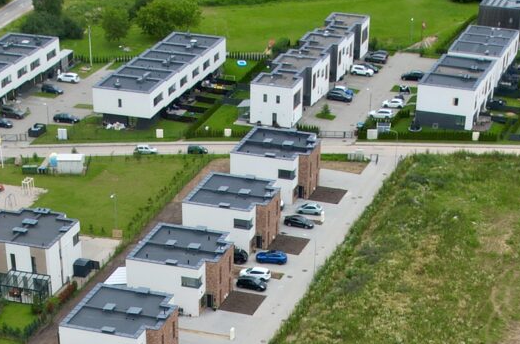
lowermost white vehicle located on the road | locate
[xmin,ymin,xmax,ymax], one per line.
[240,266,272,282]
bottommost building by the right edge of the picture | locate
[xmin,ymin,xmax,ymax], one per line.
[417,23,508,127]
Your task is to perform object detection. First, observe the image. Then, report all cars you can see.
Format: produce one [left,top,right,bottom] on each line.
[240,266,272,282]
[233,249,256,265]
[256,250,287,265]
[182,145,209,156]
[133,145,157,156]
[237,277,267,292]
[364,54,386,65]
[56,72,80,83]
[328,90,352,102]
[380,99,405,109]
[334,86,355,95]
[282,217,313,230]
[280,199,297,212]
[40,84,62,94]
[350,65,373,76]
[401,72,425,82]
[295,205,325,217]
[364,64,383,74]
[0,107,24,119]
[53,114,79,124]
[0,118,13,128]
